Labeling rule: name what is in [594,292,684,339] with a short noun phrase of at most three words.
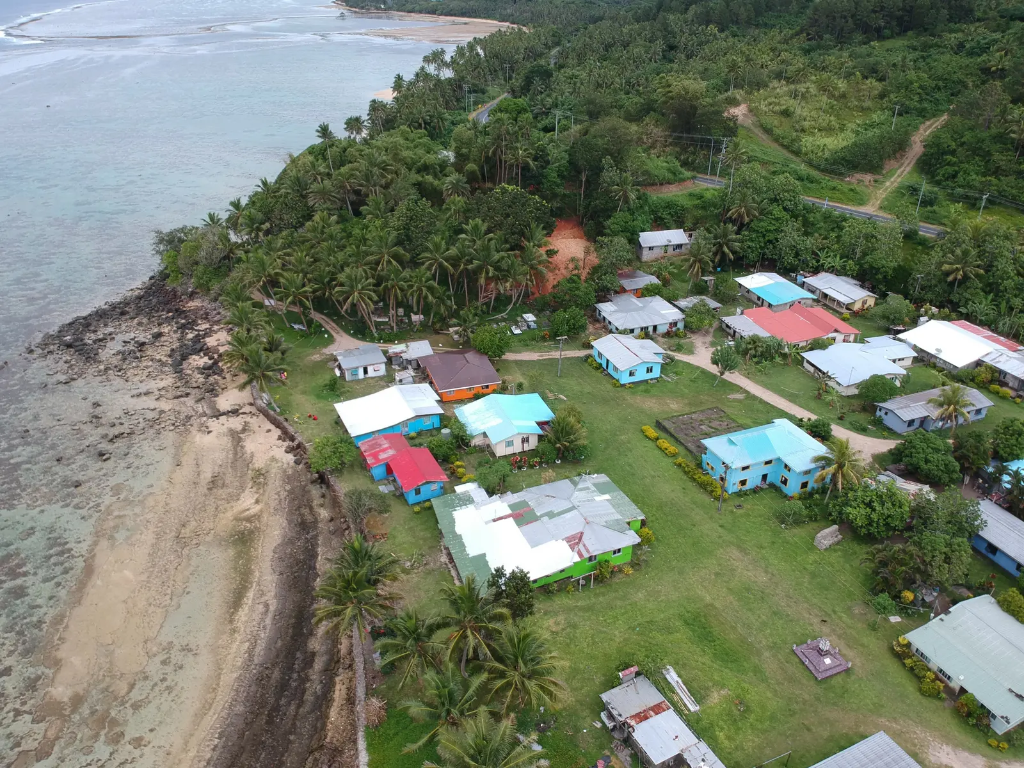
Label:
house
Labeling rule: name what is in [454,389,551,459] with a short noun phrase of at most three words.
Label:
house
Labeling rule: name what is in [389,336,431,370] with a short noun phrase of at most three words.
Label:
shed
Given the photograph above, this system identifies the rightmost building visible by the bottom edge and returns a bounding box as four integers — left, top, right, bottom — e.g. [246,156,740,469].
[904,591,1024,737]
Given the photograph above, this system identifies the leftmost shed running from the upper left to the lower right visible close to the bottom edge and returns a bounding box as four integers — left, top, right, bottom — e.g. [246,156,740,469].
[599,674,727,768]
